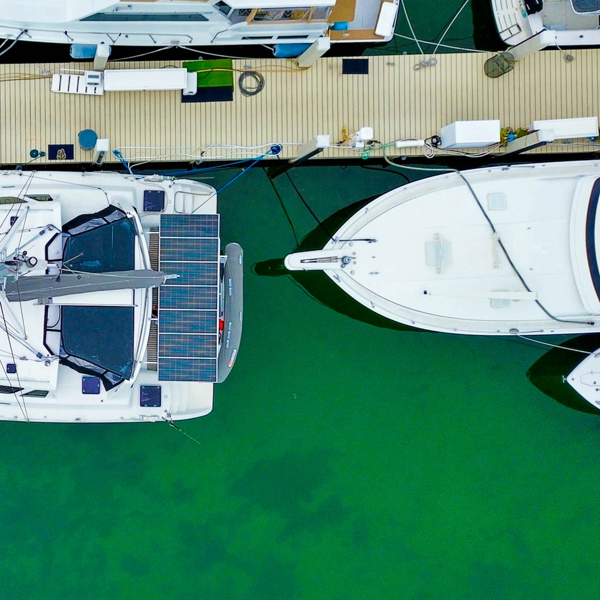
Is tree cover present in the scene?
No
